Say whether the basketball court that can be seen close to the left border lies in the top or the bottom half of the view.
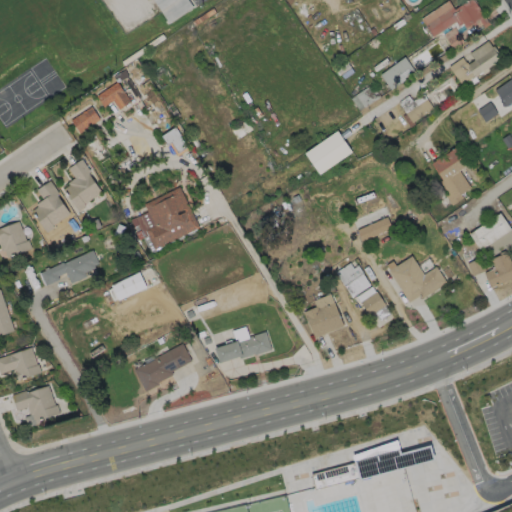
top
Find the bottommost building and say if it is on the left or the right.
right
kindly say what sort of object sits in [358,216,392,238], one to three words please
shed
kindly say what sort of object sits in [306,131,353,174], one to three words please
barn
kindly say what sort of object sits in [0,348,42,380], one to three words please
house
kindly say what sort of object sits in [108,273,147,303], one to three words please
building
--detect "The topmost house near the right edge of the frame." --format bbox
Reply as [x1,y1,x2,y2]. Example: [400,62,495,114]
[422,0,489,36]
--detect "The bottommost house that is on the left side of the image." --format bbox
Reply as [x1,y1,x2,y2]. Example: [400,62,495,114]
[12,384,60,426]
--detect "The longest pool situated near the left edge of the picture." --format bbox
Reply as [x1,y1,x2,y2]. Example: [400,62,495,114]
[1,206,18,223]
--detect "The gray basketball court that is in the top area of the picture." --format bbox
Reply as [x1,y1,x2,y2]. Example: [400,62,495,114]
[0,58,66,126]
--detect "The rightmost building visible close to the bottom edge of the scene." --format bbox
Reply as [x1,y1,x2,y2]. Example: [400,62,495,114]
[314,464,358,490]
